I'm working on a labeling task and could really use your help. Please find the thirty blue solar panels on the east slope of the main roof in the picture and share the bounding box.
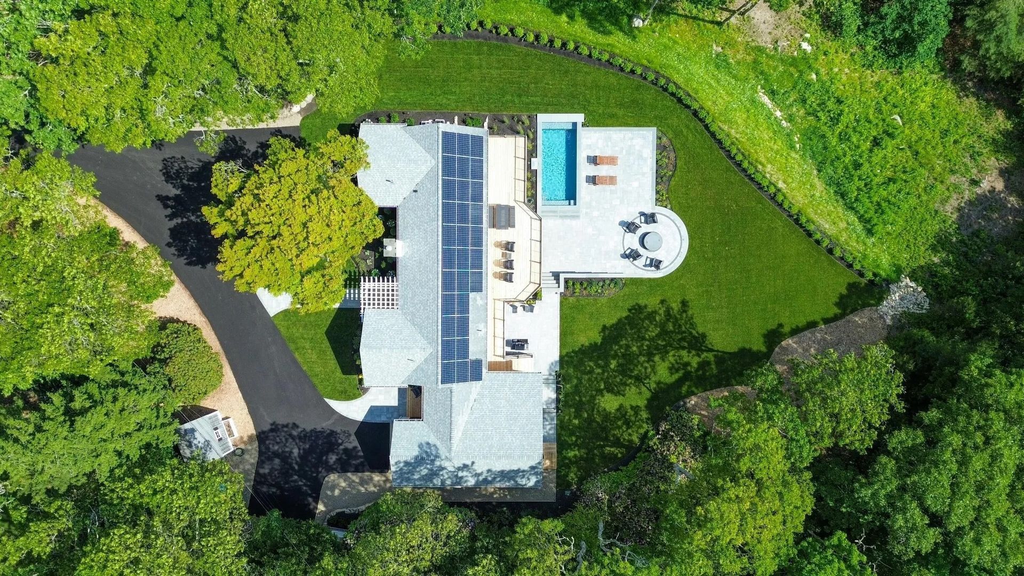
[443,131,484,384]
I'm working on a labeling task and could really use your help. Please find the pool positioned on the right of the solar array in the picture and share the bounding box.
[537,114,584,216]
